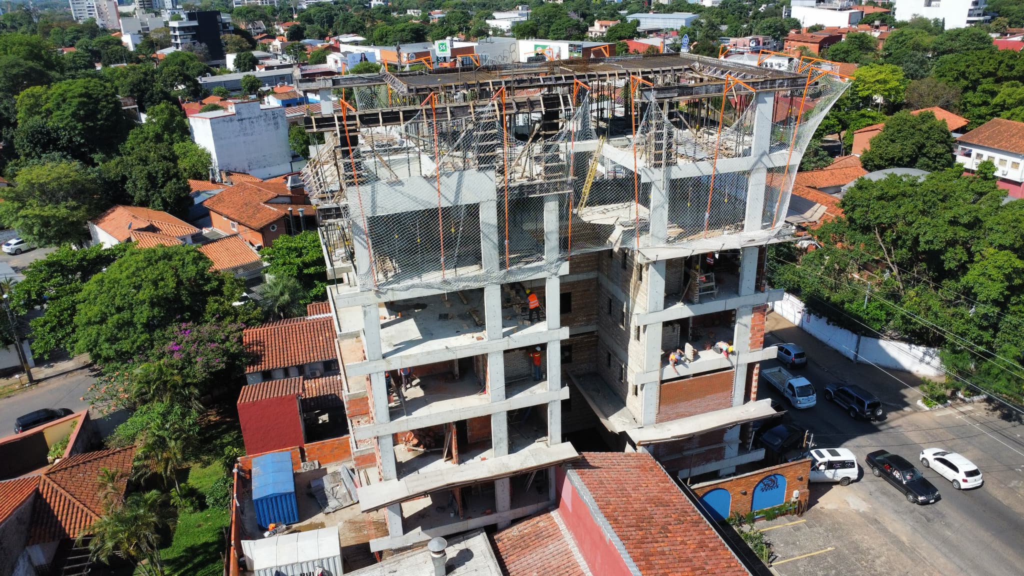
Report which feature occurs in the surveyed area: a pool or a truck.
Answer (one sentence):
The one in the frame is a truck.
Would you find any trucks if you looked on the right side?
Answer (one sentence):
Yes, on the right side there is a truck.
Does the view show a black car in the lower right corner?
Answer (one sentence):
Yes, you'll find a black car in the lower right corner.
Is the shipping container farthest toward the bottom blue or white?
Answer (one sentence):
The color of the shipping container farthest toward the bottom is white.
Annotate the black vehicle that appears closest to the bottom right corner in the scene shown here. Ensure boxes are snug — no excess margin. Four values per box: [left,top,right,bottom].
[867,454,946,509]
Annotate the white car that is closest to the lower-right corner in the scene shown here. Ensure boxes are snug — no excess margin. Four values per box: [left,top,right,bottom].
[921,449,991,493]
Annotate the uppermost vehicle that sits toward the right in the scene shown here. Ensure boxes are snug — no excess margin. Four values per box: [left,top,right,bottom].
[773,341,810,369]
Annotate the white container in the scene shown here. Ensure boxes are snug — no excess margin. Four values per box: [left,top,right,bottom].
[234,523,347,576]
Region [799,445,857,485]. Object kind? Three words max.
van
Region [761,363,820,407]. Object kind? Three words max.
truck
